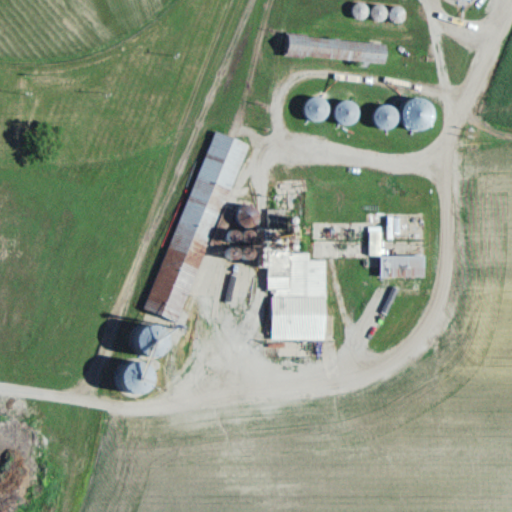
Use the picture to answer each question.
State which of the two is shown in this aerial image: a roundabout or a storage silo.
storage silo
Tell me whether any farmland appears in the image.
Yes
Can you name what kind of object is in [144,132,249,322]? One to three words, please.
shed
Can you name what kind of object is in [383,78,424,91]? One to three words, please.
vehicle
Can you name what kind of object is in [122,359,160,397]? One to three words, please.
silo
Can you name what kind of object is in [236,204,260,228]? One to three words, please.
silo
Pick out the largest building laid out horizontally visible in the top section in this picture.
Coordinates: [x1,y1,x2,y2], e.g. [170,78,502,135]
[286,34,386,68]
